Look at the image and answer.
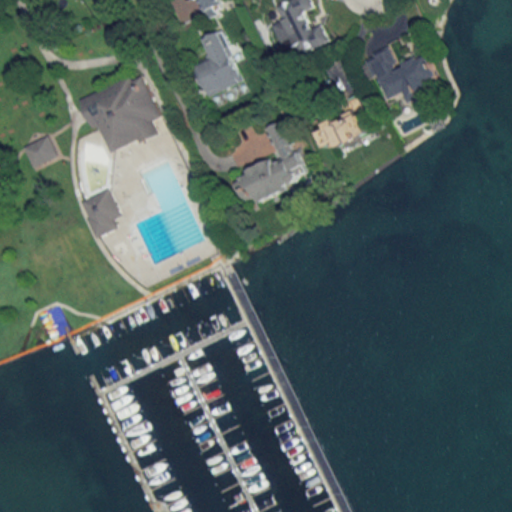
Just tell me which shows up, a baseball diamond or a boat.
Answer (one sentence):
I can see a boat in this picture.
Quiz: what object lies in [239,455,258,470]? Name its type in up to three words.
boat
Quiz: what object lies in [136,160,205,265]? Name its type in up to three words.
swimming pool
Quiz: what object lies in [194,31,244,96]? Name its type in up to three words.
house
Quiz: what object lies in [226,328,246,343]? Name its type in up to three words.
boat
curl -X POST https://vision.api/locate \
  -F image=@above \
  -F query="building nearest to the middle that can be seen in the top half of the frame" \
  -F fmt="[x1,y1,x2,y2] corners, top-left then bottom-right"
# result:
[234,150,307,204]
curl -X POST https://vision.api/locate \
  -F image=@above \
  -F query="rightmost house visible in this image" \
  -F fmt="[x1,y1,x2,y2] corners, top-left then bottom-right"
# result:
[370,45,434,100]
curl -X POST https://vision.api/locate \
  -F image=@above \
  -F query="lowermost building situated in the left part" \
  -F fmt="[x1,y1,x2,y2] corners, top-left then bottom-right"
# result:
[82,189,120,236]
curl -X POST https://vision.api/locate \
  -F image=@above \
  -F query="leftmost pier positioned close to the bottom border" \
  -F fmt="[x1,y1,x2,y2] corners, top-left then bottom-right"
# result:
[90,376,183,512]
